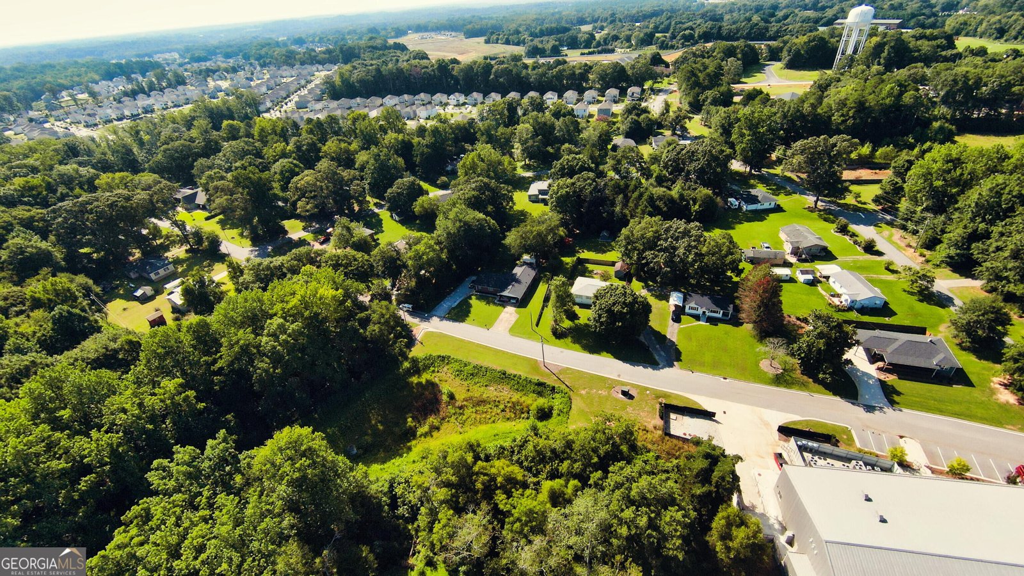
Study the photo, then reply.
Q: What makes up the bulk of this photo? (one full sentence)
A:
Most of the picture is covered by trees.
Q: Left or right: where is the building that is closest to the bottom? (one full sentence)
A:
It is on the right.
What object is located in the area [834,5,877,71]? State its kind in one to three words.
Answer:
water tower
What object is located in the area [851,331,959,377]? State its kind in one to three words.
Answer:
house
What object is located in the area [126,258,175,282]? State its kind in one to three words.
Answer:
house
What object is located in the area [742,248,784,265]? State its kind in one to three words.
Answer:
shed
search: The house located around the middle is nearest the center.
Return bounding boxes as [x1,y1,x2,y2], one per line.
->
[474,263,544,306]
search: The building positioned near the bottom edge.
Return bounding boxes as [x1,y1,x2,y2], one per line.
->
[776,462,1024,576]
